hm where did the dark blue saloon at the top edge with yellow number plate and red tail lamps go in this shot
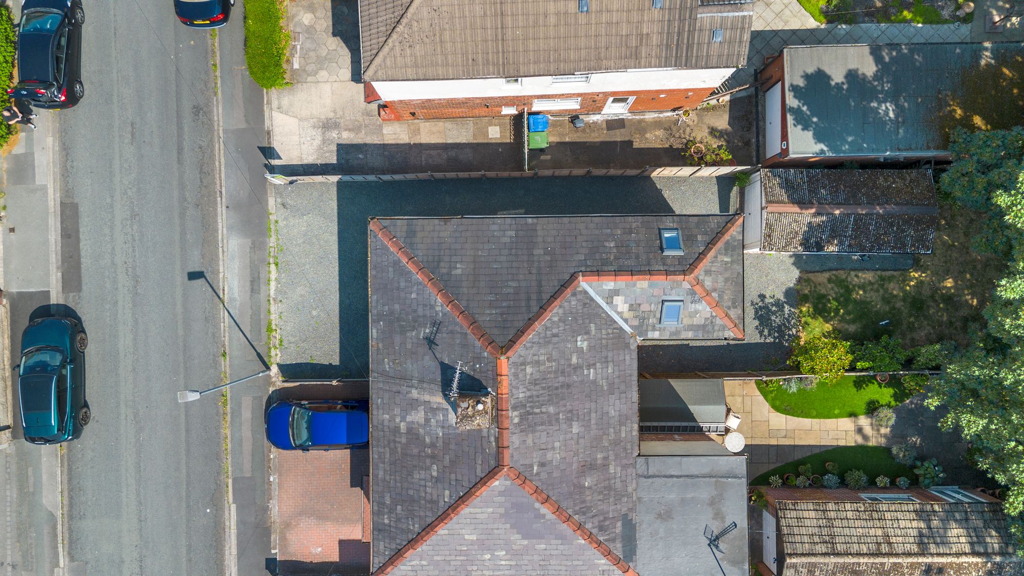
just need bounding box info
[176,0,236,31]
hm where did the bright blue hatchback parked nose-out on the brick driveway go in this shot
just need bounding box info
[266,398,365,456]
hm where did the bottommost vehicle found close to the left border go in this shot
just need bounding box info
[16,317,89,441]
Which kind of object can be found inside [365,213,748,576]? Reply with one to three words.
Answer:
house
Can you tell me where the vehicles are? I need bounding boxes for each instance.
[176,0,236,31]
[16,317,89,441]
[266,398,365,456]
[3,0,84,111]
